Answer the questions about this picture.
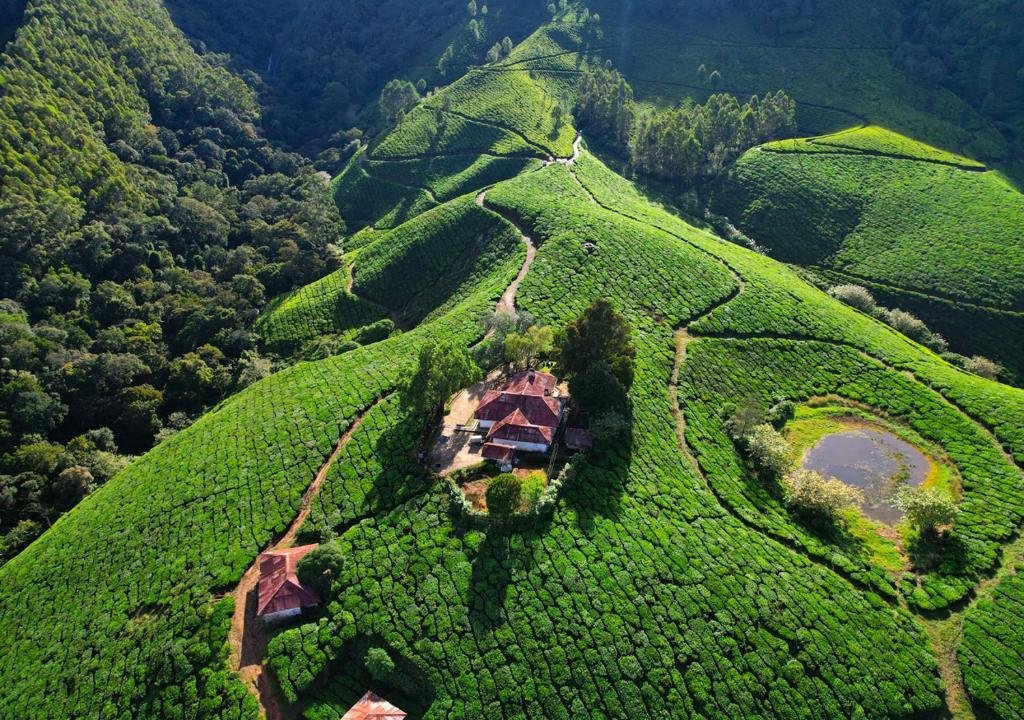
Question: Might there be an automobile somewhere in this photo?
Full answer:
No, the scene contains no automobile.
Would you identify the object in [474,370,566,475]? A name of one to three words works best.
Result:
house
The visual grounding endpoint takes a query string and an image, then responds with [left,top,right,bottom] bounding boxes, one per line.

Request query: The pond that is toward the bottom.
[808,427,928,516]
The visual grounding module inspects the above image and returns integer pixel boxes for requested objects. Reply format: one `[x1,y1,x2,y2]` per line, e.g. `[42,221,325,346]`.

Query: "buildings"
[560,426,590,456]
[474,370,566,475]
[259,544,321,623]
[349,691,409,720]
